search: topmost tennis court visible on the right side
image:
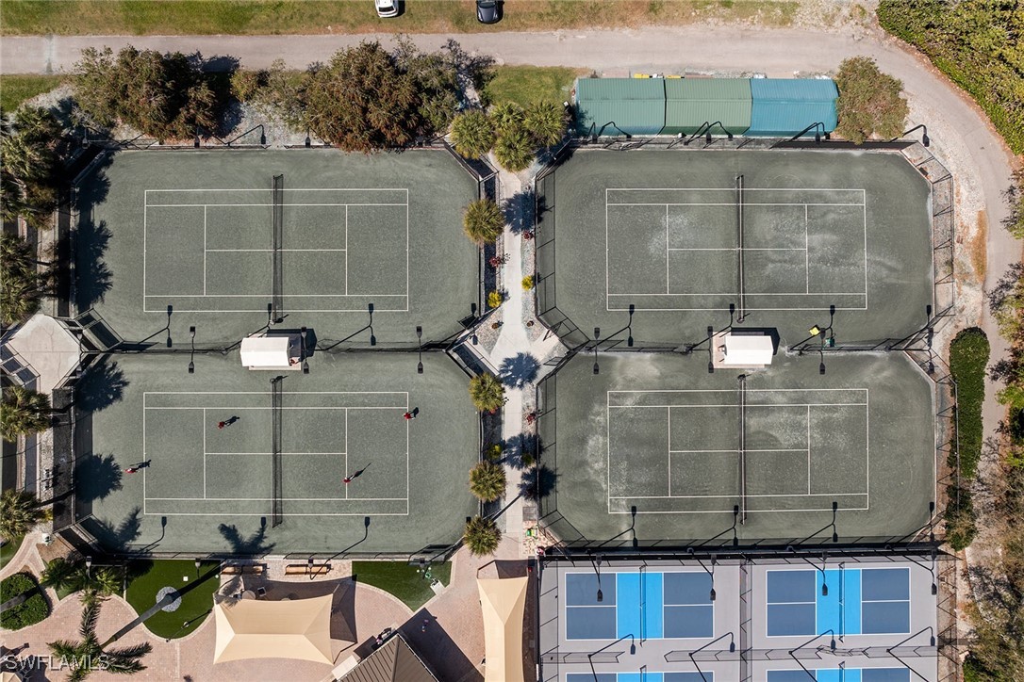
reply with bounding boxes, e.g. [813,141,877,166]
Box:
[537,147,937,350]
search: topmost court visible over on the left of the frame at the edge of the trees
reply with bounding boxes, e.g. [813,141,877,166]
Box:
[72,147,480,352]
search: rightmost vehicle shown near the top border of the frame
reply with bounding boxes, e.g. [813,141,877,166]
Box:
[477,0,502,24]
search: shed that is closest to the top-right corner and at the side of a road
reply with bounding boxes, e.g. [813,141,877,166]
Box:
[742,79,842,135]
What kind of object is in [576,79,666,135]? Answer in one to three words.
shed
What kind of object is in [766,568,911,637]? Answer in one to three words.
sports court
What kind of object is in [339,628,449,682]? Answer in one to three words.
building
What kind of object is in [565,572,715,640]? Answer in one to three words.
sports court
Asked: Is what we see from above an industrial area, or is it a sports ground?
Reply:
sports ground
